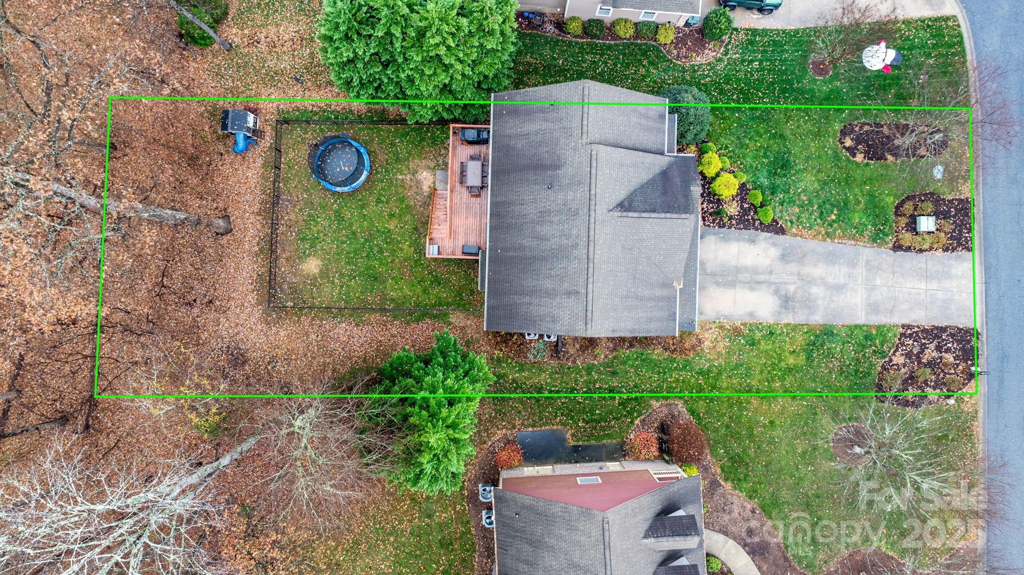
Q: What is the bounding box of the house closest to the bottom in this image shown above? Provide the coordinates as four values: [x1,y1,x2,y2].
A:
[492,461,707,575]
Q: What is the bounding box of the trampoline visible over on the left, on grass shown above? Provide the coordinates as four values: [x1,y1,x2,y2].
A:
[308,131,370,196]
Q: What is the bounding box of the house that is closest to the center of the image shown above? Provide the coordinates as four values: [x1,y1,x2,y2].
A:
[477,80,701,337]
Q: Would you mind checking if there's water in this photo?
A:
No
